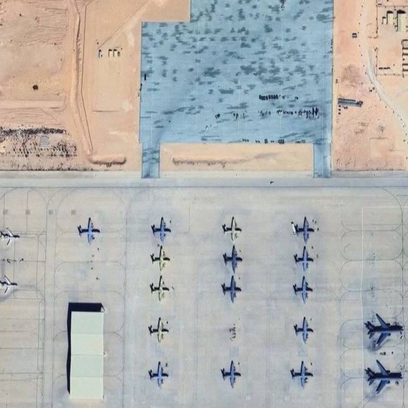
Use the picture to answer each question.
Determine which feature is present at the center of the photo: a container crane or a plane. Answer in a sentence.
What appears at the center of the photo is a plane.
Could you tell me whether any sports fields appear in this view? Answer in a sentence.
No, the scene contains no sports field.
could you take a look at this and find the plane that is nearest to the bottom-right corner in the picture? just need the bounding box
[366,359,402,392]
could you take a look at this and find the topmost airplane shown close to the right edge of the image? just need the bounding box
[365,313,403,345]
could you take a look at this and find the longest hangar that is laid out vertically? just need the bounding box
[70,310,105,400]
